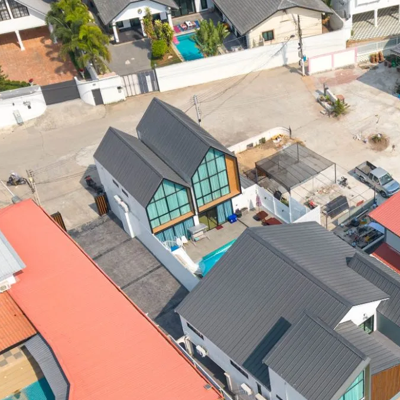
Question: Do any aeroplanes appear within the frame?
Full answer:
No, I find no aeroplane anywhere in the image.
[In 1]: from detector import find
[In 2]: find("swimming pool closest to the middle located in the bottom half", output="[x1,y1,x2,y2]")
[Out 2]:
[195,219,264,280]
